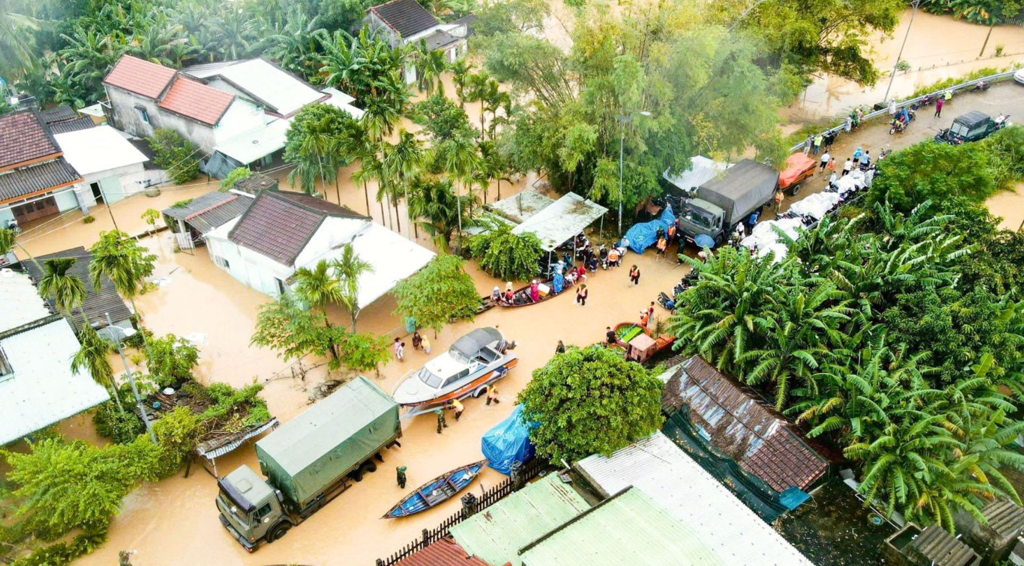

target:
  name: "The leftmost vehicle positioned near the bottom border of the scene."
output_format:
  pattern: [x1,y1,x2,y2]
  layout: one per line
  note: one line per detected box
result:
[214,379,407,563]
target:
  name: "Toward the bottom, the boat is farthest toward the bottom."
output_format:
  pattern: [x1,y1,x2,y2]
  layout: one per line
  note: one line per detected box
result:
[378,452,488,520]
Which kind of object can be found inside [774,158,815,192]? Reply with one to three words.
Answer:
trailer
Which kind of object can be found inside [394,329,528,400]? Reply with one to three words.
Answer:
boat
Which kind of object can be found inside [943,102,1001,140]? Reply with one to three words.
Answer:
car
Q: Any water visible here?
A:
Yes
